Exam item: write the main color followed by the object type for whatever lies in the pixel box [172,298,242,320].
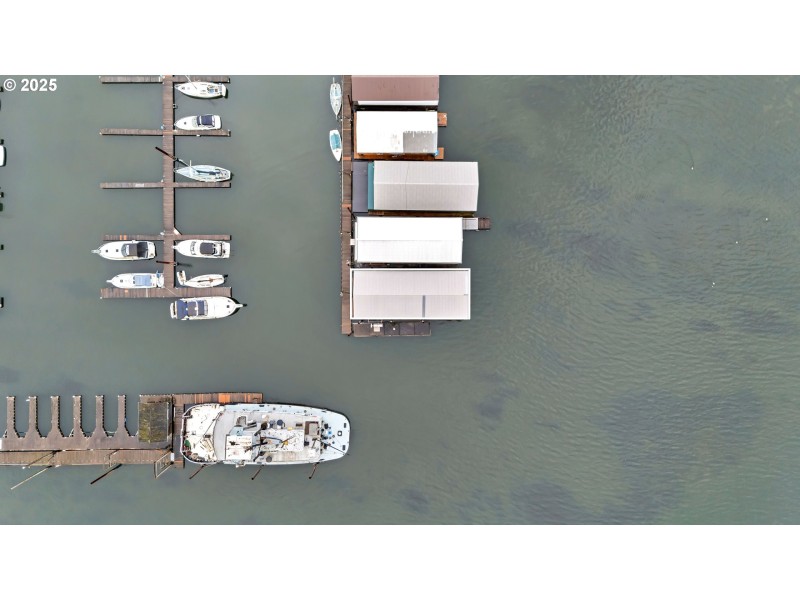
white boat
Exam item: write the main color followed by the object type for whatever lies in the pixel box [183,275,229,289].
white boat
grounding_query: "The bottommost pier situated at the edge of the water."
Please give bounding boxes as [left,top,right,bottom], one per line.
[0,448,173,468]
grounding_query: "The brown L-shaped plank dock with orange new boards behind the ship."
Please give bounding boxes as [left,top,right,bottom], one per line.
[138,394,264,466]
